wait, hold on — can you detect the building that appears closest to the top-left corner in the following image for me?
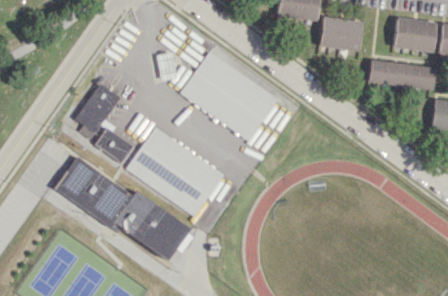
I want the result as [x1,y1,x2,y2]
[78,85,120,137]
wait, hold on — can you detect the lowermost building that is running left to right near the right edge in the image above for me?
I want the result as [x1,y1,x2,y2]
[369,61,437,93]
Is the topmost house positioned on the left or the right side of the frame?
right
